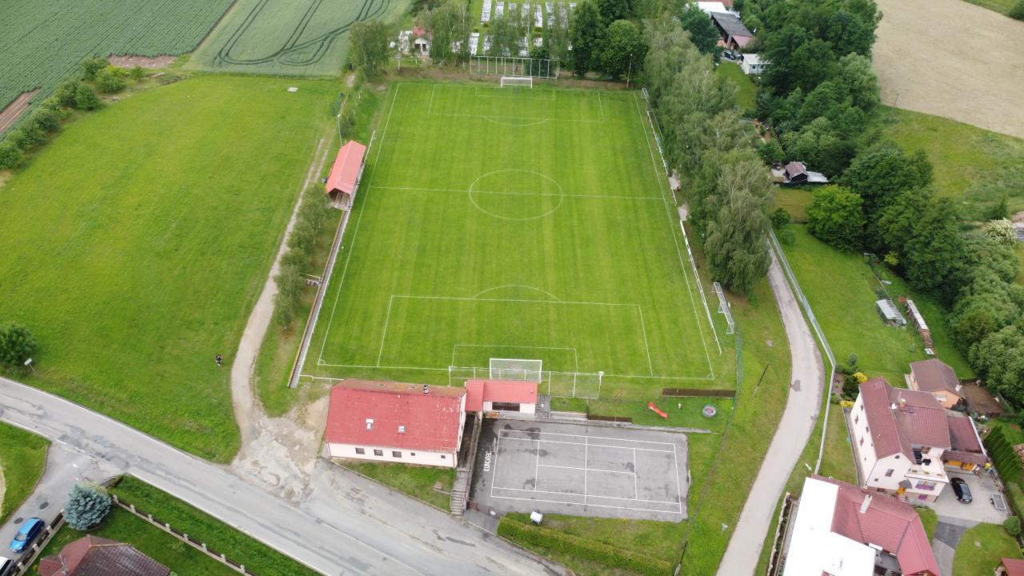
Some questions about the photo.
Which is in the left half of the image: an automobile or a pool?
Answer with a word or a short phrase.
automobile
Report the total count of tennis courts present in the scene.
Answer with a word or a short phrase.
1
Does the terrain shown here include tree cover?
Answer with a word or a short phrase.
Yes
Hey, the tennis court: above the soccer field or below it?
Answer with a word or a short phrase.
below it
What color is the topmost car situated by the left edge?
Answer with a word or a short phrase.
blue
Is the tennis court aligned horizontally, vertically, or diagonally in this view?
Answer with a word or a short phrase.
horizontally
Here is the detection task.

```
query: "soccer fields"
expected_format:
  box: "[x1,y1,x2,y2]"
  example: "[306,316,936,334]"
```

[303,81,733,390]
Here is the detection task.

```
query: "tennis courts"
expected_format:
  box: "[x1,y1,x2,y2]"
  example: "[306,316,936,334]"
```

[472,421,687,522]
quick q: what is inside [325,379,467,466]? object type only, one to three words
building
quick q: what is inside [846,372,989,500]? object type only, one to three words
house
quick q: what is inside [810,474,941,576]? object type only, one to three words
house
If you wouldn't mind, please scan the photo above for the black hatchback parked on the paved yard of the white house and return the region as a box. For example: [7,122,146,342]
[951,476,979,504]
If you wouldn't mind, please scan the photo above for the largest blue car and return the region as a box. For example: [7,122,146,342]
[6,514,45,548]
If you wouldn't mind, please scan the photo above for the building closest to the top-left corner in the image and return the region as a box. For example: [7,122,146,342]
[413,27,430,55]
